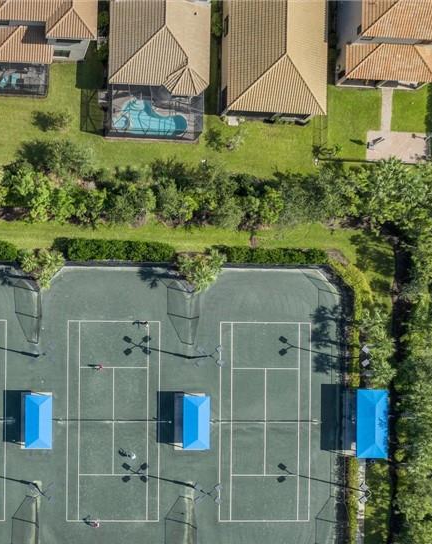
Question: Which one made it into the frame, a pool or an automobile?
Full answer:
It is a pool that can be seen here.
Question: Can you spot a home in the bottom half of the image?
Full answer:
No, no home is visible in the bottom half of the image.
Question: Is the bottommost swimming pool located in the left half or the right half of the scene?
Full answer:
The bottommost swimming pool sits on the left side.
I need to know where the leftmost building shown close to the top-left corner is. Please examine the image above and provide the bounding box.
[0,0,97,71]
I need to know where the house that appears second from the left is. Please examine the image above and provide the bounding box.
[108,0,209,105]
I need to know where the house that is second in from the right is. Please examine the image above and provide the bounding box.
[220,0,328,120]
